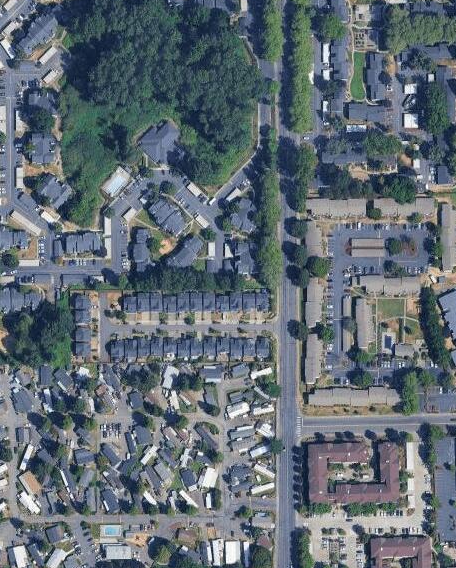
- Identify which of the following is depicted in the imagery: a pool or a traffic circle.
pool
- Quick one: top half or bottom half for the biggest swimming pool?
top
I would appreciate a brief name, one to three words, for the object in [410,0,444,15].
building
